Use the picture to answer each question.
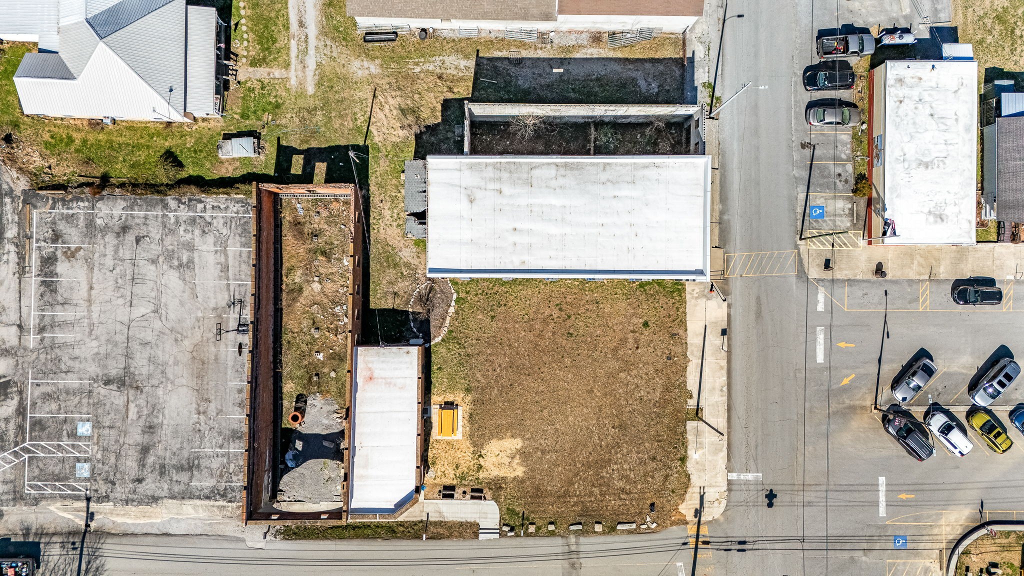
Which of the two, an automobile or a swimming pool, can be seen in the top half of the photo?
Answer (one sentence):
Visible in the top half of the photo is an automobile.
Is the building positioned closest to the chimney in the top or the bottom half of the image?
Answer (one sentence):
The bottom half of the photo is where the building positioned closest to the chimney is.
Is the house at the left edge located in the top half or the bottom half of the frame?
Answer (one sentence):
The top half of the photo is where the house at the left edge is.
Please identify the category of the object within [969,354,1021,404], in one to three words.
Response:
car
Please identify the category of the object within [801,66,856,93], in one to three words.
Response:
car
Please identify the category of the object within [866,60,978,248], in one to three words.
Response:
building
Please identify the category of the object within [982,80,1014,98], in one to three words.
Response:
shed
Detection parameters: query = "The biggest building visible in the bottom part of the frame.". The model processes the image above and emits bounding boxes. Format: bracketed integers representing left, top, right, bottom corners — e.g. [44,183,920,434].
[351,344,426,519]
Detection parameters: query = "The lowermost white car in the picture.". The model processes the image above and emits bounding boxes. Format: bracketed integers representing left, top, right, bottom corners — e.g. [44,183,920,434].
[920,407,972,458]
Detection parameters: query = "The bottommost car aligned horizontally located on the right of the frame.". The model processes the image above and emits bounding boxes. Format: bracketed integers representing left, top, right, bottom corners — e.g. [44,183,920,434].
[947,284,1002,309]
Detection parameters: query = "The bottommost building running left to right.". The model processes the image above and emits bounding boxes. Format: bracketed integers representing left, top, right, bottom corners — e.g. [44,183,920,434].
[426,155,711,281]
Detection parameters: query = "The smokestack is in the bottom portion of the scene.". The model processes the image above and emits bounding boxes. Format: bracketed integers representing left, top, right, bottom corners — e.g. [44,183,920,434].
[286,409,306,426]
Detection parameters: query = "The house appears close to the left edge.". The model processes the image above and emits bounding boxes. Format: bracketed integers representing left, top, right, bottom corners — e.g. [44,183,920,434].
[0,0,235,132]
